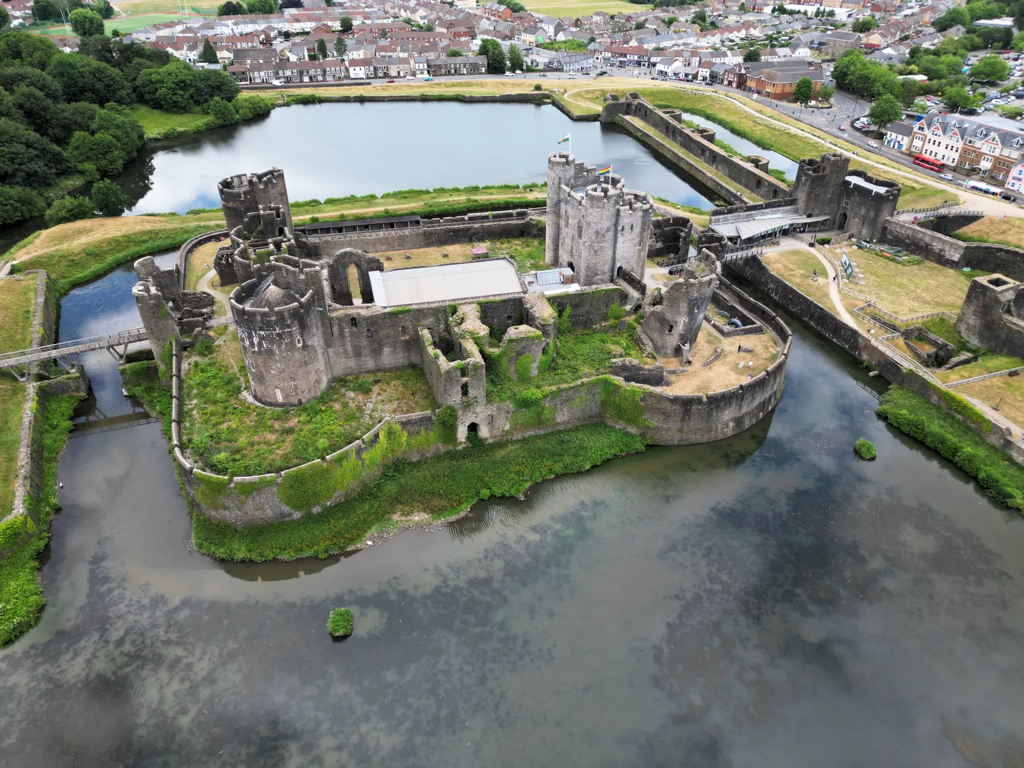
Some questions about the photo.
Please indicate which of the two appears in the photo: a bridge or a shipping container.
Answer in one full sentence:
Of the two, only a bridge appears.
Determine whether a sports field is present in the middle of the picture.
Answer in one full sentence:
No, there's no sports field to be seen in the middle of the picture.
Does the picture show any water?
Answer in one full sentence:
Yes, water shows up in the scene.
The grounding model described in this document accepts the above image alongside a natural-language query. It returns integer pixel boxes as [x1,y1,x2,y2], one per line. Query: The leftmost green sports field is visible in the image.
[36,13,194,40]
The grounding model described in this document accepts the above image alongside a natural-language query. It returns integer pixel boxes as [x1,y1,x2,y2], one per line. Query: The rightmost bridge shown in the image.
[902,192,974,228]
